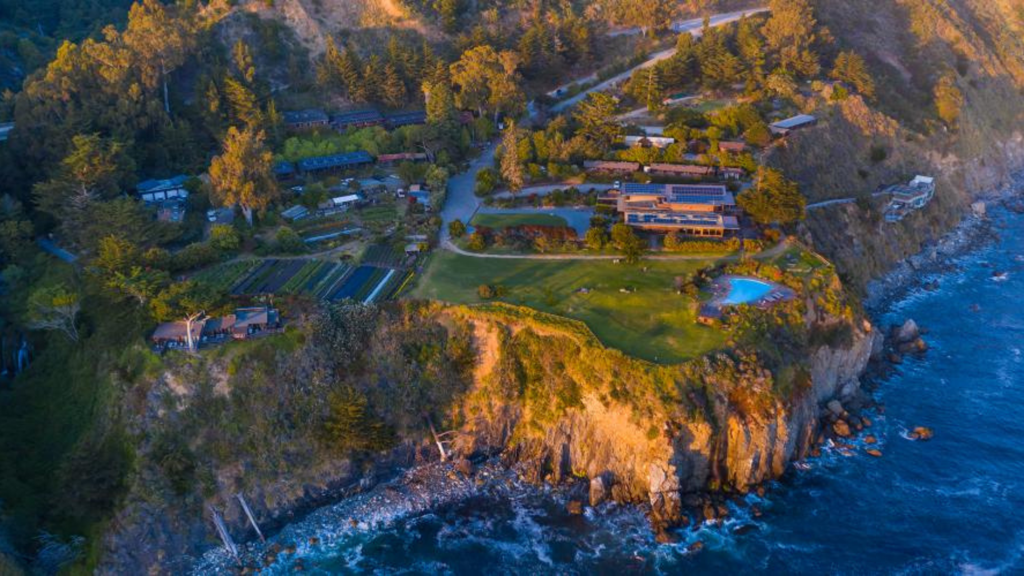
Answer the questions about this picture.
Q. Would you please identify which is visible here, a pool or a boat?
pool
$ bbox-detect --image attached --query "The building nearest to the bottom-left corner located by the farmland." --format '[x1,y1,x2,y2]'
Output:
[150,299,283,358]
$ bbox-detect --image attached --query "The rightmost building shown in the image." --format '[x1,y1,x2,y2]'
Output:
[881,175,937,228]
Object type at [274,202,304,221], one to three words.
greenhouse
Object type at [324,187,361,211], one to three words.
greenhouse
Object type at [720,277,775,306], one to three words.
swimming pool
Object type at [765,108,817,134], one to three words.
house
